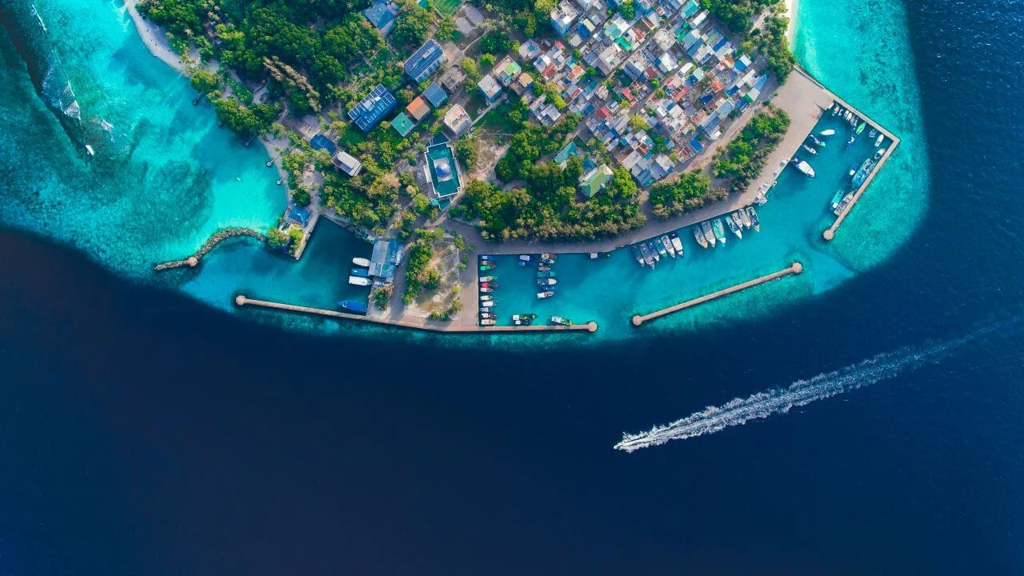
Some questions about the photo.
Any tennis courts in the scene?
No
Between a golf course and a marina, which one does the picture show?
marina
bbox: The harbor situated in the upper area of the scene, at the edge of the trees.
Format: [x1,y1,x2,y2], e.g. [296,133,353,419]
[366,69,831,331]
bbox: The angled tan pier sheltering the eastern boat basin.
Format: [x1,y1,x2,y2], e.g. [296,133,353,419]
[822,101,900,240]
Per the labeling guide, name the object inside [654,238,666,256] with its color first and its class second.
blue boat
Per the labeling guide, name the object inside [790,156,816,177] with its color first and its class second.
white boat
